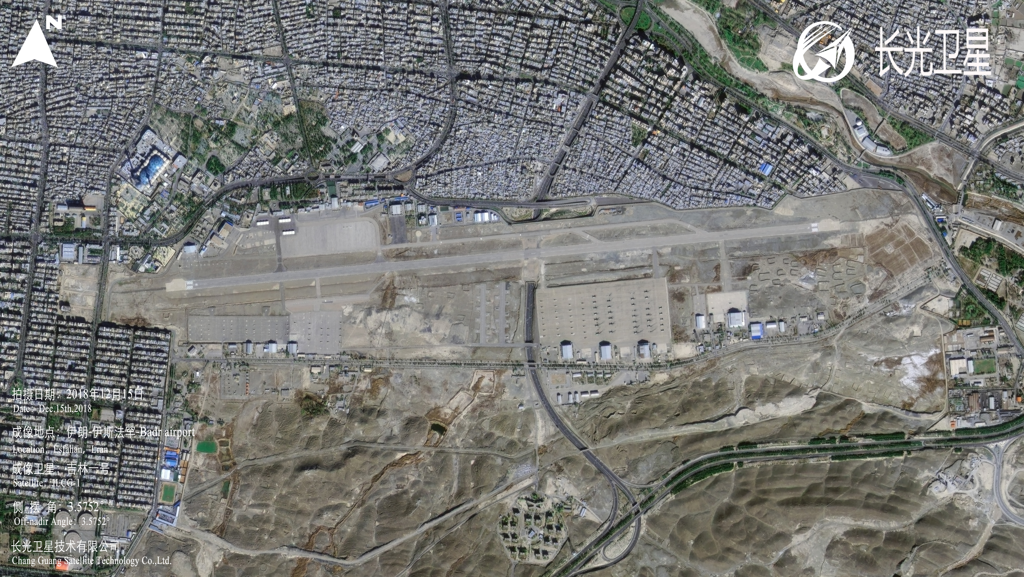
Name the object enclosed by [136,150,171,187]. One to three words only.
building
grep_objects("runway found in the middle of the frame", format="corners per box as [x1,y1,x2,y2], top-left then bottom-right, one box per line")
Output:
[185,223,819,290]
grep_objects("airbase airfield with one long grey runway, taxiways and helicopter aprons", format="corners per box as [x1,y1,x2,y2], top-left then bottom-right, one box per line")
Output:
[166,206,840,364]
